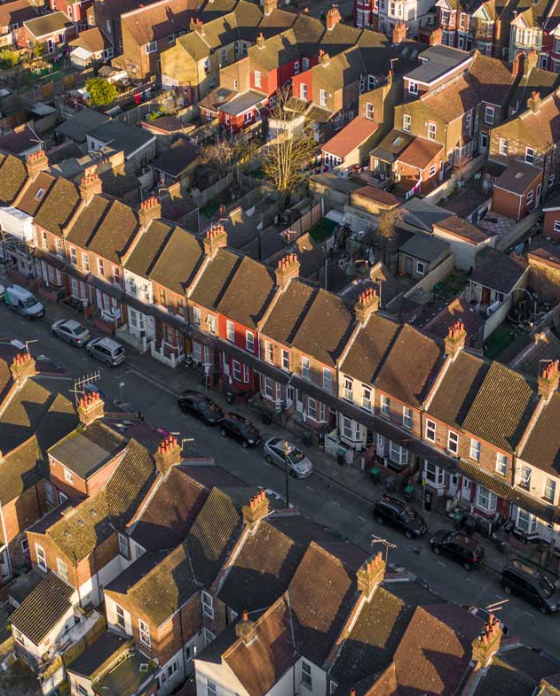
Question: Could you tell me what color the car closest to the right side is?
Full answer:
In this view, the car closest to the right side is black.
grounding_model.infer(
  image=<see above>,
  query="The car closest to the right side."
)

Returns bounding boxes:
[492,557,560,613]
